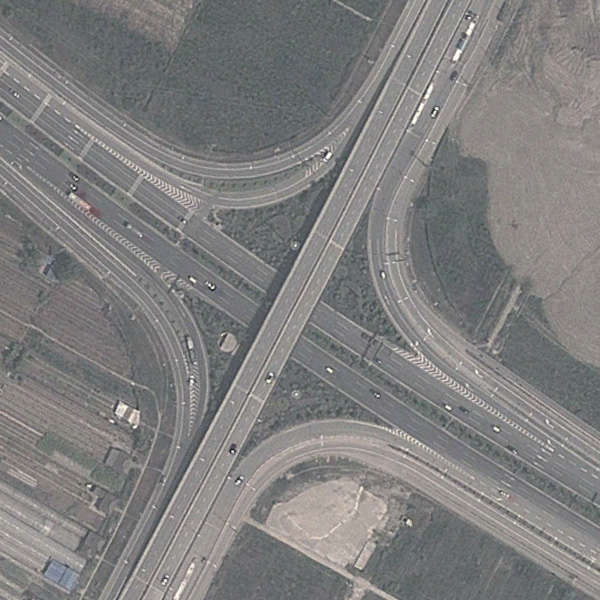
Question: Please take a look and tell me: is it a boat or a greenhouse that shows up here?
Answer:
greenhouse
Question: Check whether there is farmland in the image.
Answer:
Yes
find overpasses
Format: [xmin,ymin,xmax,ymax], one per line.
[120,0,473,600]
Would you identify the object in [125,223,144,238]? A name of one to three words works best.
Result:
vehicle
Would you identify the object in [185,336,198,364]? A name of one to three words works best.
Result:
vehicle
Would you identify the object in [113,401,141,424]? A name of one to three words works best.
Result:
house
